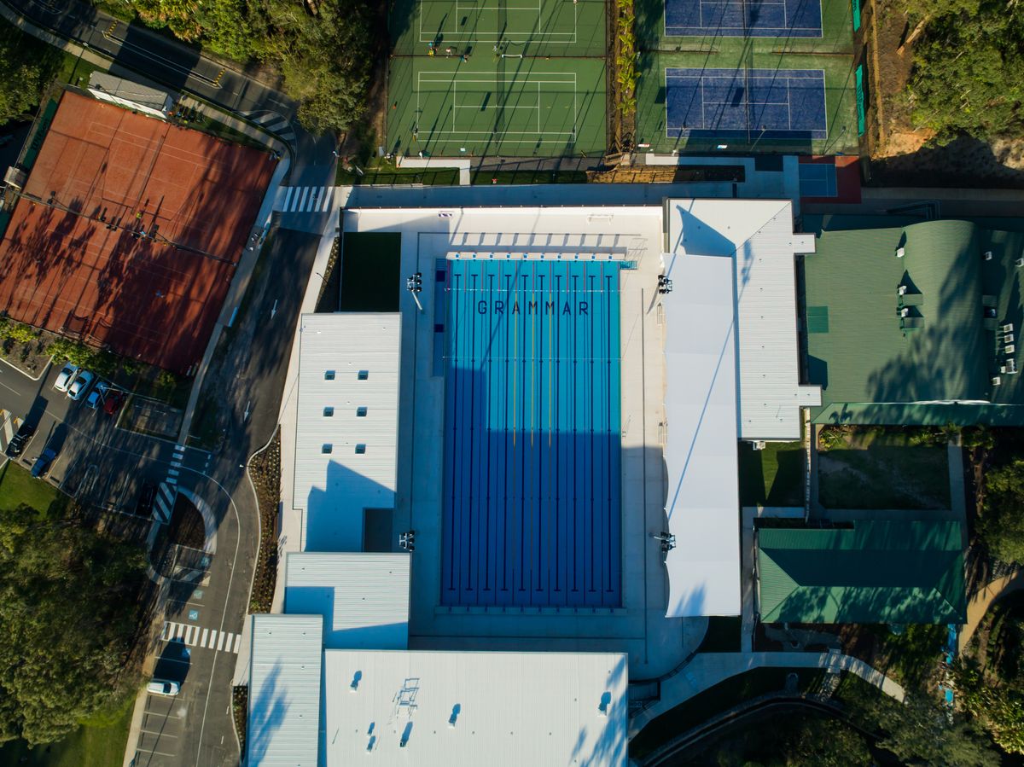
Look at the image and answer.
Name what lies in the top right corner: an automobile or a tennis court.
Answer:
tennis court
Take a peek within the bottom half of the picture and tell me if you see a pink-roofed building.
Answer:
No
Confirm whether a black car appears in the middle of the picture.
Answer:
No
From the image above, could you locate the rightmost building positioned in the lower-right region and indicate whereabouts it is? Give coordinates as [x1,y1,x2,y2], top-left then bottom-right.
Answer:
[756,520,968,625]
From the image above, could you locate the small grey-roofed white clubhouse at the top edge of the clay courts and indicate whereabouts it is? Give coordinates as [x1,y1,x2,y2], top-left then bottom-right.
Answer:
[87,70,177,120]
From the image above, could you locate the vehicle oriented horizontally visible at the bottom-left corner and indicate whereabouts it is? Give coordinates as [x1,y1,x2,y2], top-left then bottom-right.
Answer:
[142,680,179,699]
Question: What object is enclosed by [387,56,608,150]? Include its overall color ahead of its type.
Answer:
green tennis court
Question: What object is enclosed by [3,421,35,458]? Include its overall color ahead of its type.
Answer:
black car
